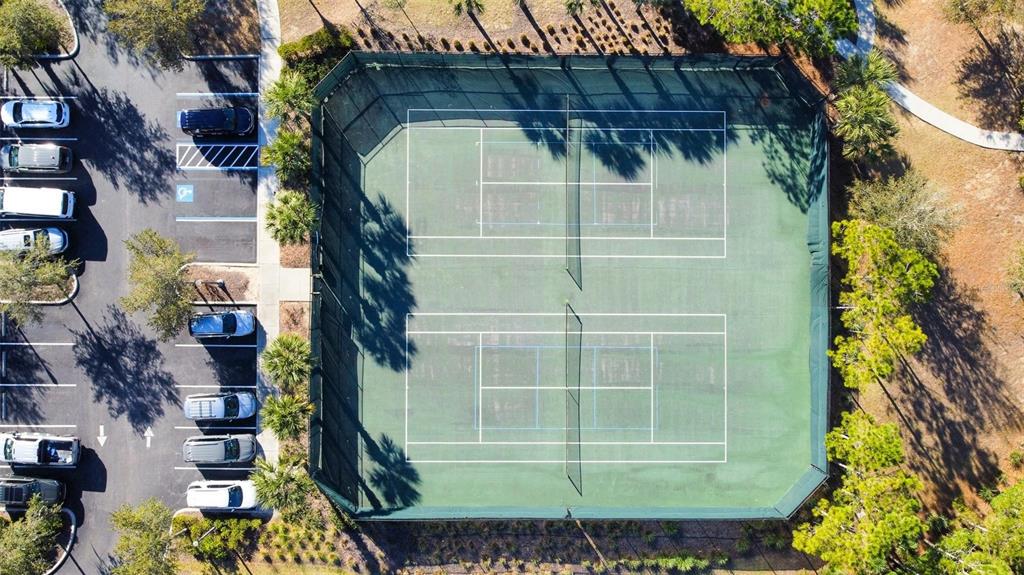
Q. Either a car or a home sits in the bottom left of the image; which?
car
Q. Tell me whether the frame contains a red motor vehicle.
No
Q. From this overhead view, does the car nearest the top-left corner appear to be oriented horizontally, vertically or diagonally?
horizontally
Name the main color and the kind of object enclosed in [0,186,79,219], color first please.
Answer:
white van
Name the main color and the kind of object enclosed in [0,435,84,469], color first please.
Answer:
white truck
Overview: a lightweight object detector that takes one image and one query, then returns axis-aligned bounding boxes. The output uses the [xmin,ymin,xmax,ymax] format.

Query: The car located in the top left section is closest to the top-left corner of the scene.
[4,97,74,129]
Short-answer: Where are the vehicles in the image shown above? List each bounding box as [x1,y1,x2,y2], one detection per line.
[190,307,258,338]
[180,104,257,138]
[187,389,259,421]
[4,141,77,173]
[0,186,79,219]
[0,435,84,469]
[4,97,74,129]
[0,225,70,257]
[186,434,258,466]
[189,478,262,511]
